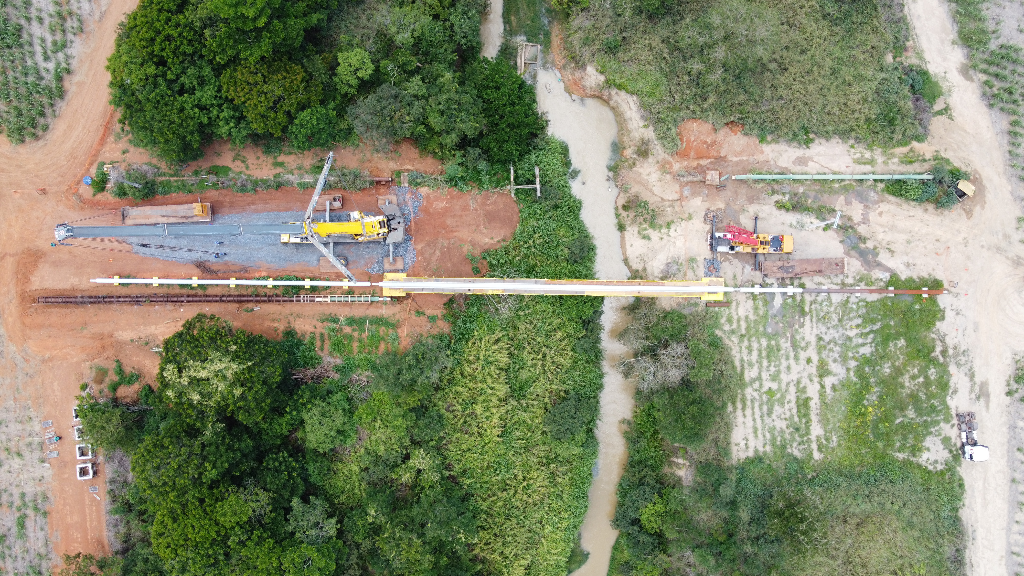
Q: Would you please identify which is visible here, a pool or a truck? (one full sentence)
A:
There is a truck in the scene.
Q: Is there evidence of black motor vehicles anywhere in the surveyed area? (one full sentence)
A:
No, I find no black motor vehicle anywhere in the image.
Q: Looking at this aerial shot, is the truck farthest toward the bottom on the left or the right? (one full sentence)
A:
It is on the right.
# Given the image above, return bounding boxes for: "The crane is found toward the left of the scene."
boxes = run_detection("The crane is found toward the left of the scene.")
[46,149,406,286]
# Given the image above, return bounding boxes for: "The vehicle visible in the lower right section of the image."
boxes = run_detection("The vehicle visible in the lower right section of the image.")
[953,411,989,462]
